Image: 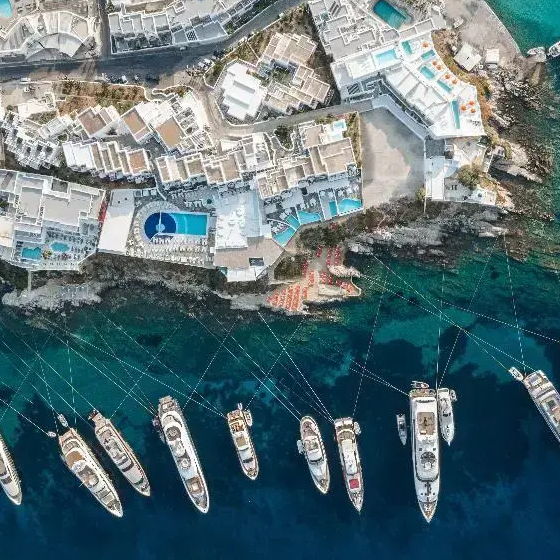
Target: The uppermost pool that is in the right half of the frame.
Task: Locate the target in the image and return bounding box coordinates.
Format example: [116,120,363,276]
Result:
[371,0,409,32]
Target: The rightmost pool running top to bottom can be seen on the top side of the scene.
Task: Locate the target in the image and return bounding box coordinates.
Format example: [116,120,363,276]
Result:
[450,99,462,130]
